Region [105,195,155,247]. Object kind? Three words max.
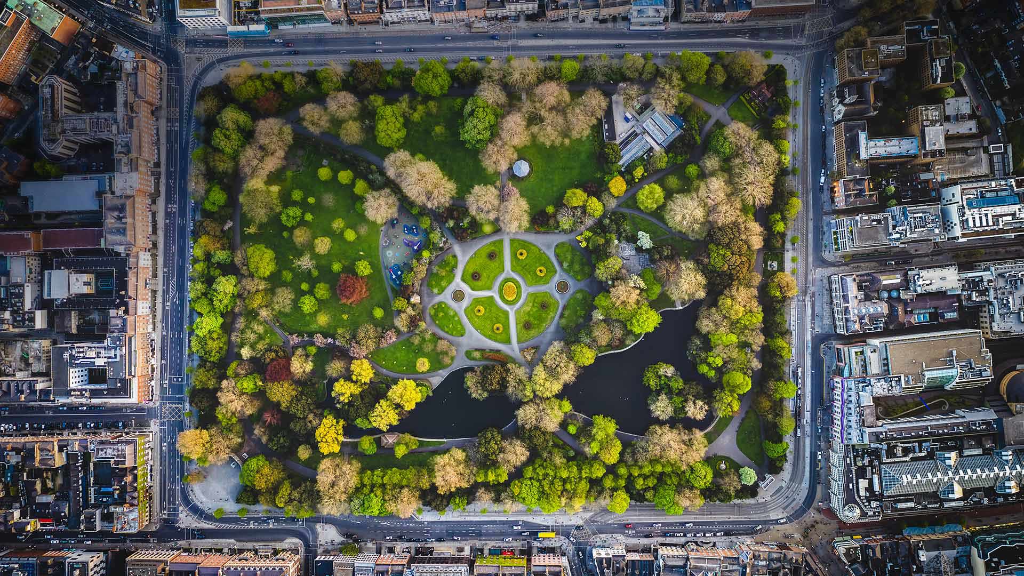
house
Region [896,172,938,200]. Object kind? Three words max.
building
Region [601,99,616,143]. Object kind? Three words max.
shed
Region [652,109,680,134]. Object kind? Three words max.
greenhouse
